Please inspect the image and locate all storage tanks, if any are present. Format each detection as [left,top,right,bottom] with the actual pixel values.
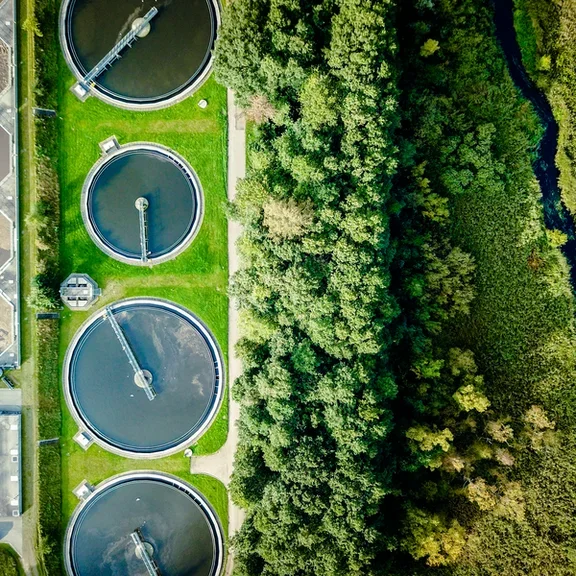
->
[82,142,205,266]
[62,296,225,458]
[64,469,225,576]
[60,0,223,110]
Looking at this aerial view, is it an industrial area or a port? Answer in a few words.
industrial area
